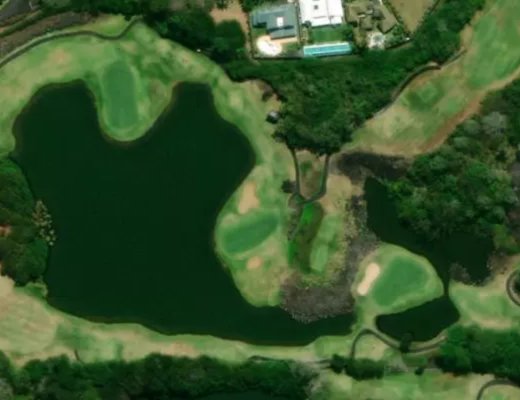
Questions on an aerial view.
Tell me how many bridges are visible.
none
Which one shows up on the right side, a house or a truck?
house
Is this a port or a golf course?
golf course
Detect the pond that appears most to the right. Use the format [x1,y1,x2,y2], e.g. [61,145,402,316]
[362,176,495,341]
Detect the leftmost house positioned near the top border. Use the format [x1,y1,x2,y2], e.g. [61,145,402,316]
[250,1,298,40]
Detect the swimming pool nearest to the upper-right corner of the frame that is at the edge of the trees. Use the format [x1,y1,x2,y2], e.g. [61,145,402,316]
[303,42,351,57]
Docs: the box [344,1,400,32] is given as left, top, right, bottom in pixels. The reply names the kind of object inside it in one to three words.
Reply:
house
